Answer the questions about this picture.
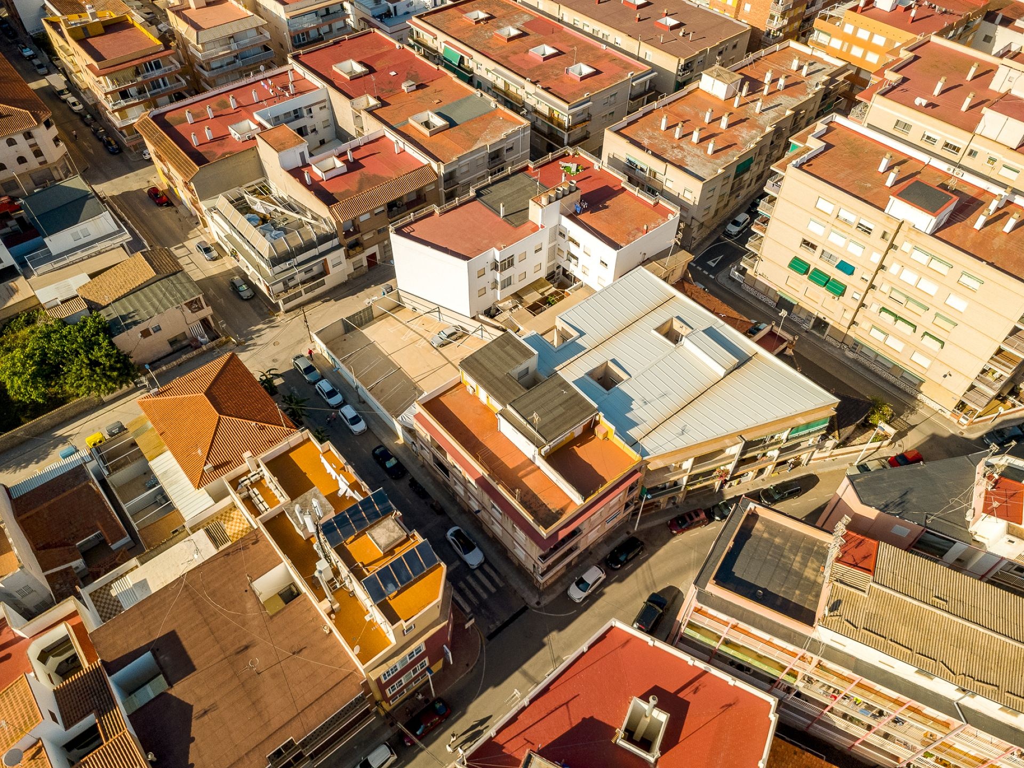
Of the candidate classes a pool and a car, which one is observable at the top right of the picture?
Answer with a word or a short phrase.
car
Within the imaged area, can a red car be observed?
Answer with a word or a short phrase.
Yes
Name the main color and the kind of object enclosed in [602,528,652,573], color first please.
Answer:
black car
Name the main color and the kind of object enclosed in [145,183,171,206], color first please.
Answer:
red car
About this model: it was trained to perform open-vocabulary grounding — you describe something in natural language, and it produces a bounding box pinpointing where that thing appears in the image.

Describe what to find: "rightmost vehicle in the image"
[980,418,1024,448]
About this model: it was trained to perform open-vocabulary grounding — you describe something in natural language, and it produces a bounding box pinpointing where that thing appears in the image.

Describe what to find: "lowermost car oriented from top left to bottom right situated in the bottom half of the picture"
[442,522,487,571]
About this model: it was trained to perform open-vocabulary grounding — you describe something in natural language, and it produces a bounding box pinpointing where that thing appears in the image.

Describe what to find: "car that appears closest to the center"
[429,323,465,349]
